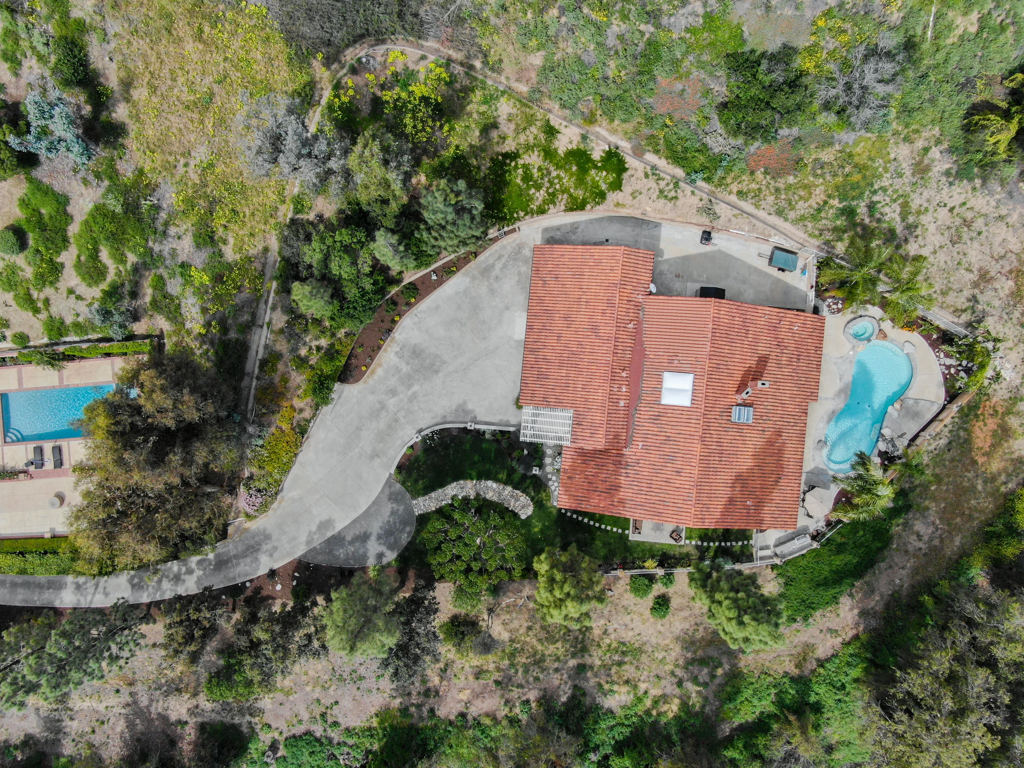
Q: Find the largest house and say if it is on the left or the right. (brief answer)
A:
right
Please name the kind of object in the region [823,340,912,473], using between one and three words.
swimming pool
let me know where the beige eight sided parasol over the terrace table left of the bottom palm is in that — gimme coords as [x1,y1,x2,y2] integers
[805,487,833,515]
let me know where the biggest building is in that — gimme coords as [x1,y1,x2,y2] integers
[517,243,827,532]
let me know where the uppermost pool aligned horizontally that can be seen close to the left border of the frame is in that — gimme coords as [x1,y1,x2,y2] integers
[0,382,157,444]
